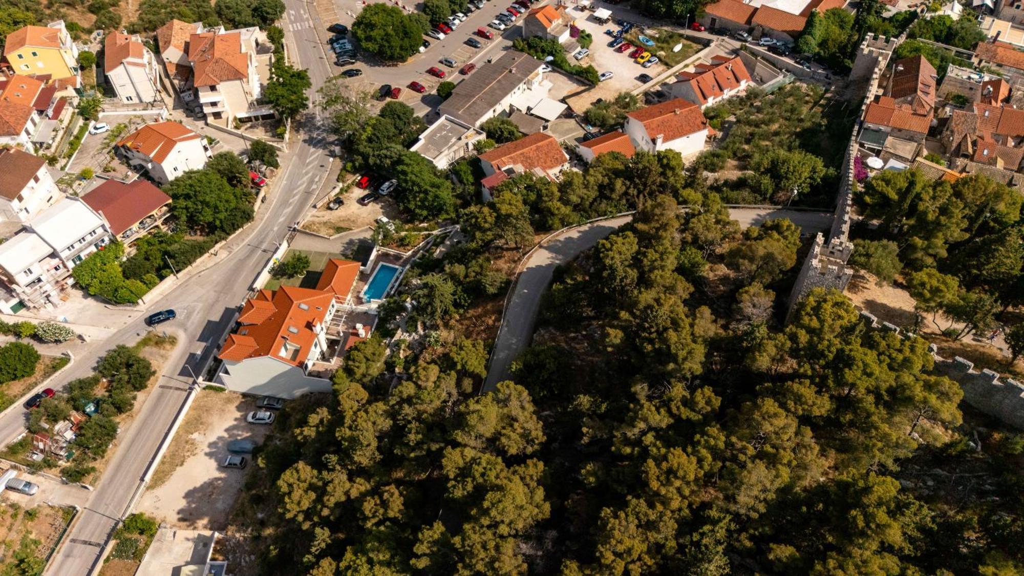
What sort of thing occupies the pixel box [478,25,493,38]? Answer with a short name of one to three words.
vehicle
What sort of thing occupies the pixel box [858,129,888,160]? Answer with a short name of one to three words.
building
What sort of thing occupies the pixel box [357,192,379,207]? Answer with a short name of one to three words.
car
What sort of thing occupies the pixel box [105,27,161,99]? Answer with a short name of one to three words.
house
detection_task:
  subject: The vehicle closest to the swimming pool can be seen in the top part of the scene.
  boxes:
[376,214,395,233]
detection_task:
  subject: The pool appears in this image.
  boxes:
[362,262,403,302]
